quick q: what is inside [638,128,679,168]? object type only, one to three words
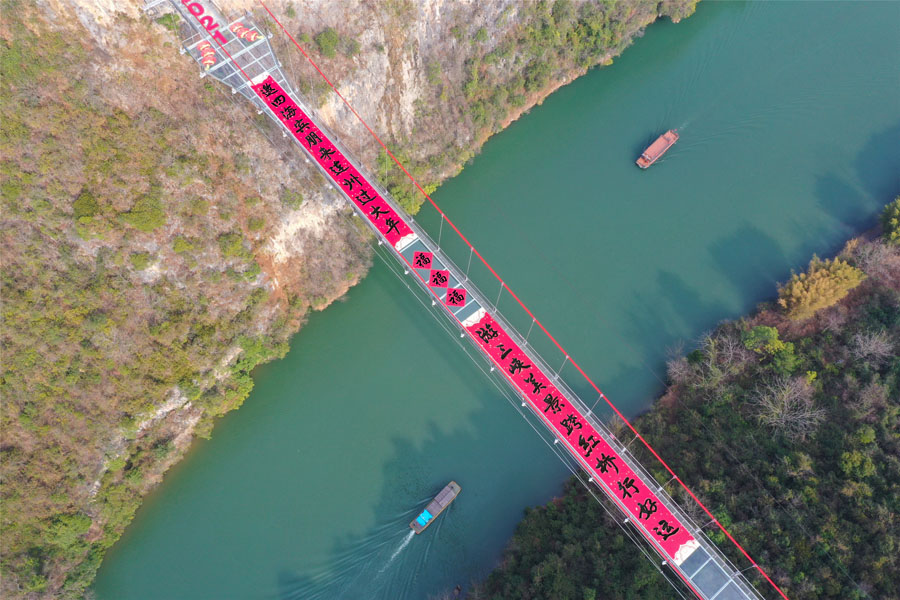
vessel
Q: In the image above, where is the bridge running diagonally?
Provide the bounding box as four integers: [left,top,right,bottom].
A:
[170,0,788,600]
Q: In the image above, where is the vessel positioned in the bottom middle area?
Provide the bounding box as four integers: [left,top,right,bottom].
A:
[410,481,461,534]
